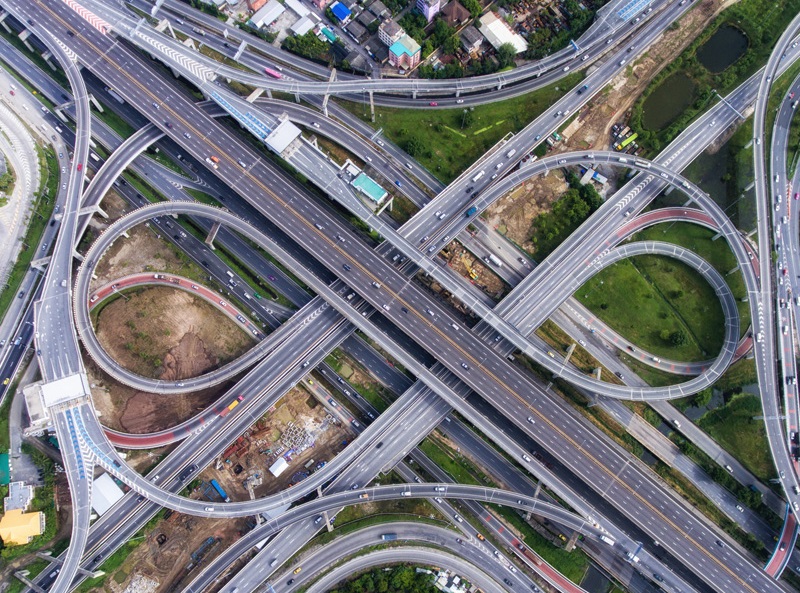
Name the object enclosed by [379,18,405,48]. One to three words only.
building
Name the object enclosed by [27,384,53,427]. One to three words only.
building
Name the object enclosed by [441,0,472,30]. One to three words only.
house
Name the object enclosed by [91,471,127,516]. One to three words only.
shed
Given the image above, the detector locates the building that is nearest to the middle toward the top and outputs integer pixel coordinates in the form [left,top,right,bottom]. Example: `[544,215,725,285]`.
[339,159,394,215]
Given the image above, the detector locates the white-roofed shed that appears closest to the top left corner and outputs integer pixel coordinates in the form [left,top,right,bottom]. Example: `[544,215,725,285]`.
[249,0,286,31]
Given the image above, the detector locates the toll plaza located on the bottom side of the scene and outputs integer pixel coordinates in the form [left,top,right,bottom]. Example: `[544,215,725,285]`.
[41,355,91,408]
